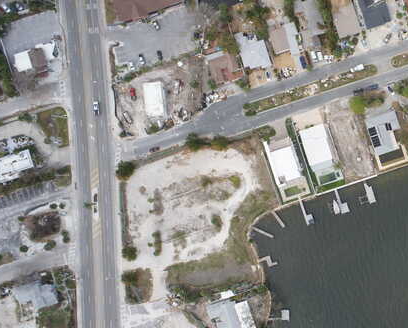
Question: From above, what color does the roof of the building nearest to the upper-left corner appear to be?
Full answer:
The roof of the building nearest to the upper-left corner is white.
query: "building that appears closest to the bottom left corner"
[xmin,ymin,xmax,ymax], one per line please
[14,281,61,309]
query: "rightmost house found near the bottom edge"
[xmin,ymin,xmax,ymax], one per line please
[208,291,257,328]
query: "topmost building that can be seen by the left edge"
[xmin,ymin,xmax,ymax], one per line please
[14,43,58,73]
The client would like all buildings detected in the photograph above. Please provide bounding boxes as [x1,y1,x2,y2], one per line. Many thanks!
[295,0,326,36]
[330,0,357,38]
[111,0,187,25]
[366,112,400,155]
[238,32,271,69]
[0,150,37,180]
[271,146,303,185]
[270,24,301,56]
[14,281,61,309]
[208,291,257,328]
[14,43,58,73]
[359,0,391,29]
[301,125,333,167]
[143,80,166,117]
[204,51,245,84]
